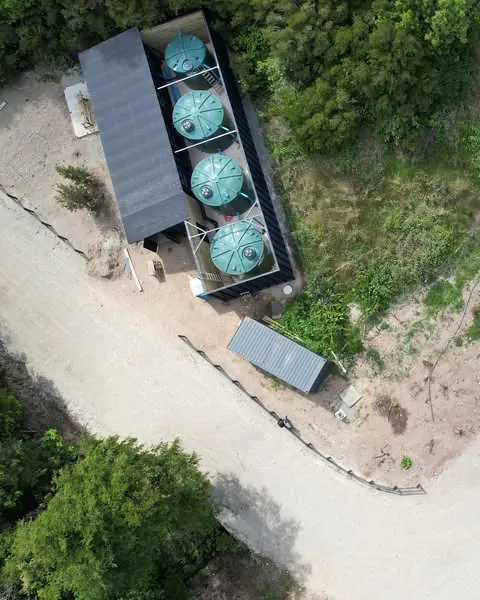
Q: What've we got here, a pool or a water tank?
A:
water tank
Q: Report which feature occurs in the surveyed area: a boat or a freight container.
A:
freight container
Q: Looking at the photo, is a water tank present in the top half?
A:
Yes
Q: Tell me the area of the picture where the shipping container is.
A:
center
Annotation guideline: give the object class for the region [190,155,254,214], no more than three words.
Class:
water tank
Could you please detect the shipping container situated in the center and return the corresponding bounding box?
[228,316,335,394]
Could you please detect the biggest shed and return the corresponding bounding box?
[77,26,202,244]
